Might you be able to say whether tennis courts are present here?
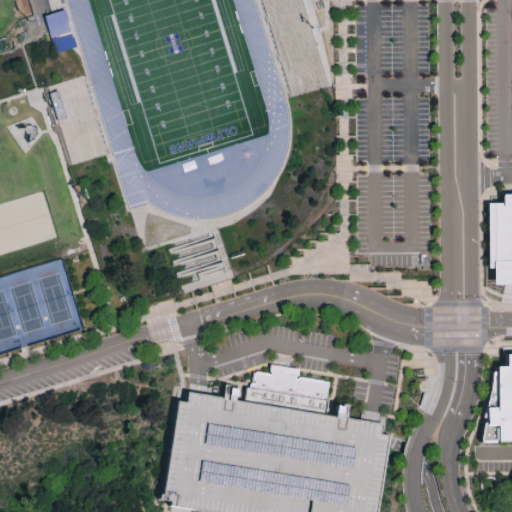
Yes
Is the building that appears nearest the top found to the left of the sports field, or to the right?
to the left of it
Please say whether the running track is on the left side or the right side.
left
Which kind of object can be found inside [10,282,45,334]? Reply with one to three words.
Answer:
tennis court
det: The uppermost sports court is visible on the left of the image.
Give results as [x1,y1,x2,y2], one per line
[0,192,57,254]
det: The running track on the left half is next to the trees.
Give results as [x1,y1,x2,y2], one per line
[68,0,290,218]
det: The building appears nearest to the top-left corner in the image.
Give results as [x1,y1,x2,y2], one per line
[46,10,72,38]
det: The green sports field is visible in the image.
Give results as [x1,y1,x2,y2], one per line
[89,0,269,170]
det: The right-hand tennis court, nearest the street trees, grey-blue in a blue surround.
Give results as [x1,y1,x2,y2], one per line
[38,273,74,325]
